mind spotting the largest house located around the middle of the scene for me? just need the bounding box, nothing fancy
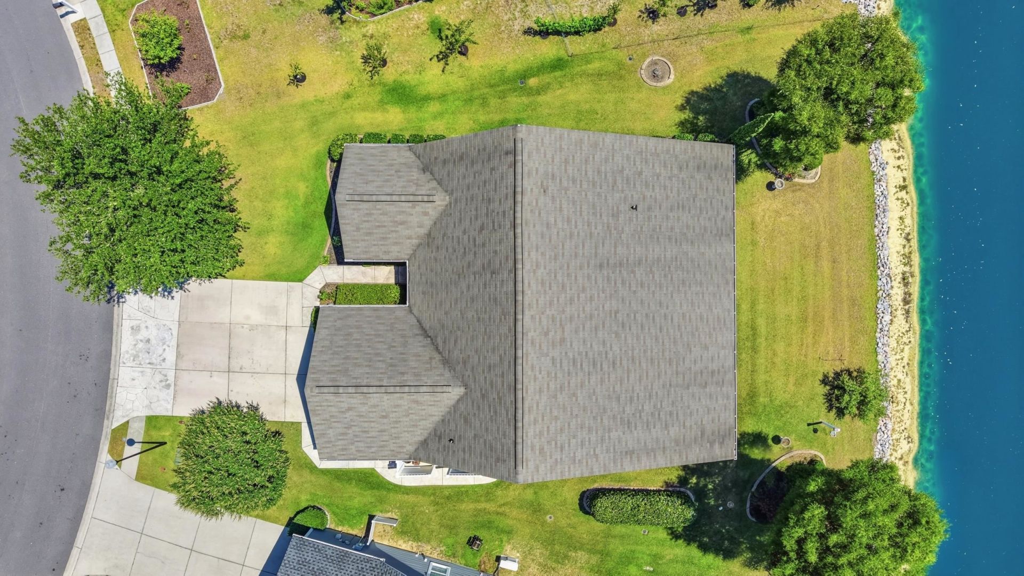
[304,124,737,483]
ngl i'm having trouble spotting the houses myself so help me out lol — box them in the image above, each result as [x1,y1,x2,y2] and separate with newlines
[275,529,494,576]
[304,124,737,483]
